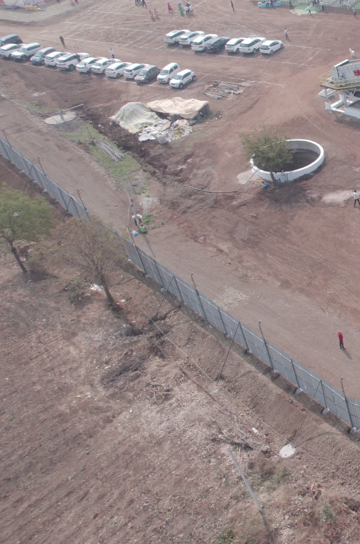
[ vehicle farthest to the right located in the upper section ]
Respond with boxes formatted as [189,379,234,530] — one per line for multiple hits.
[258,42,283,56]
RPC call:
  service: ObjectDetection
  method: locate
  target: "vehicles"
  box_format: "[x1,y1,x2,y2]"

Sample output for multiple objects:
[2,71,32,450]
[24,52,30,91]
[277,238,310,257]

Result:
[237,38,264,55]
[152,60,182,84]
[28,48,55,65]
[258,42,283,56]
[0,34,19,48]
[188,36,210,53]
[102,63,128,78]
[8,42,42,62]
[222,40,241,54]
[37,53,64,68]
[131,62,160,84]
[160,32,187,47]
[203,37,229,54]
[52,54,86,71]
[119,64,141,79]
[167,69,196,87]
[74,58,105,75]
[177,34,197,48]
[87,59,119,76]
